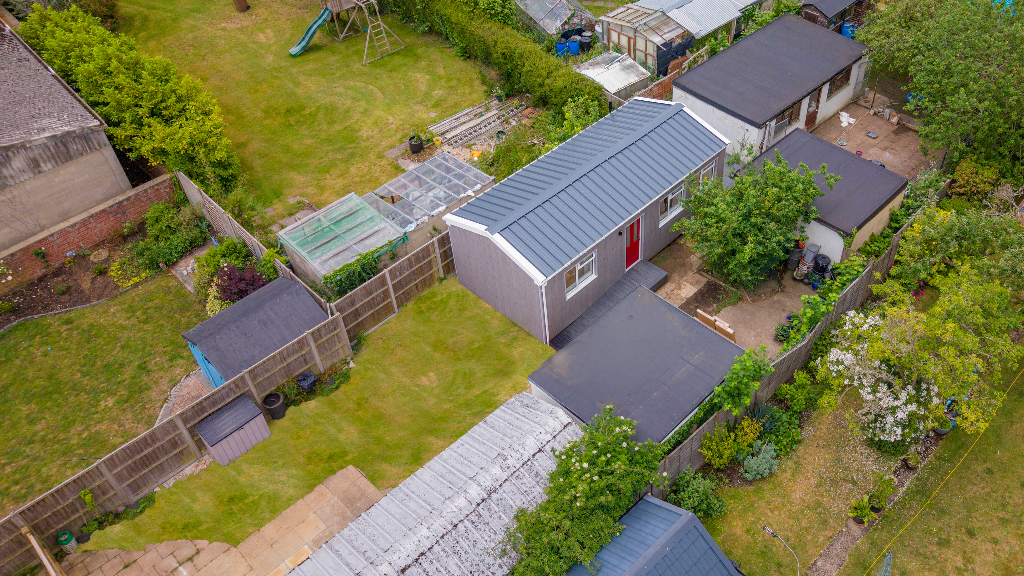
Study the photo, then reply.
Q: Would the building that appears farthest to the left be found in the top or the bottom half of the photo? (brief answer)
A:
top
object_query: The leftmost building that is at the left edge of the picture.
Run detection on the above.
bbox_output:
[0,32,134,249]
